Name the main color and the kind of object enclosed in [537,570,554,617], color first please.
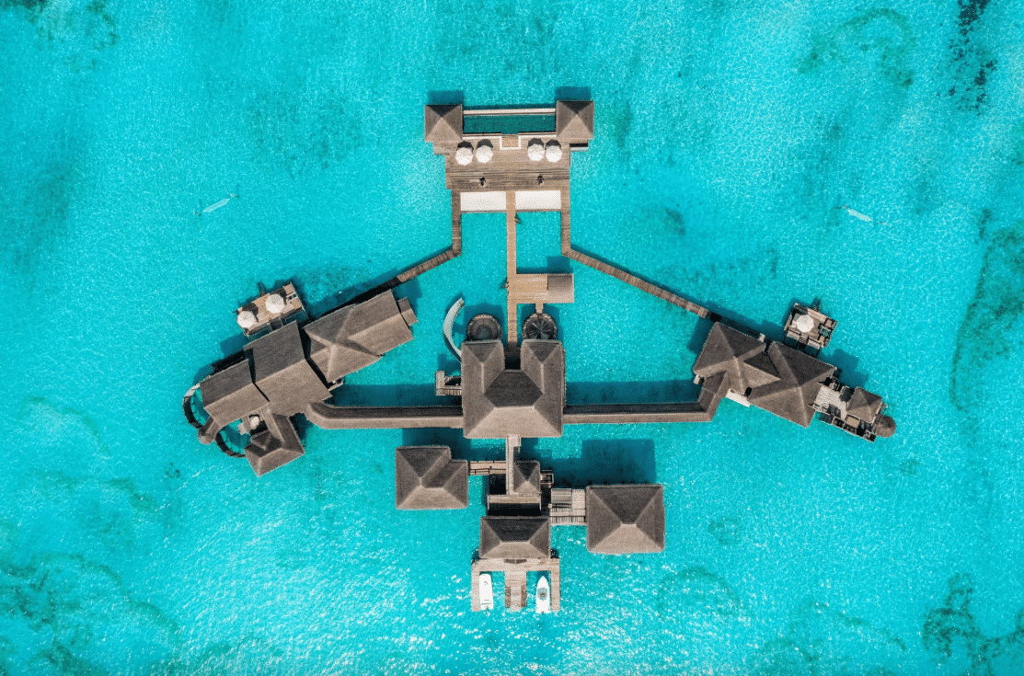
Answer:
white boat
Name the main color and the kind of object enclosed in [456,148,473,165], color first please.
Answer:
white umbrella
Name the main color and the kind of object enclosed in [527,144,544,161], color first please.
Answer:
white umbrella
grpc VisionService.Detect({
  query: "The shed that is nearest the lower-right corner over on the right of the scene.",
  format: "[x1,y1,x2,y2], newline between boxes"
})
[870,416,895,436]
